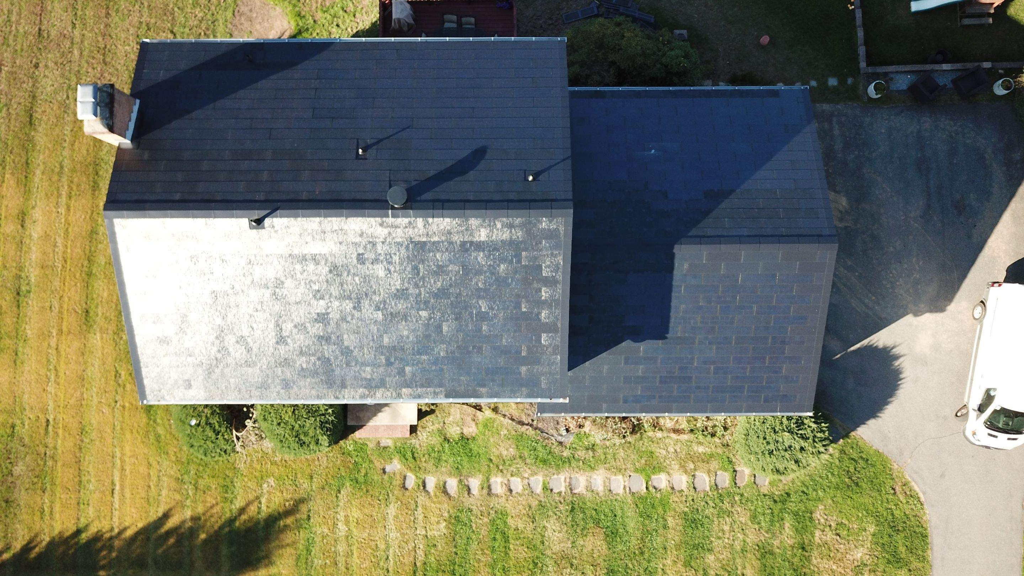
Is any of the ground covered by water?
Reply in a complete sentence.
No, the picture contains no water.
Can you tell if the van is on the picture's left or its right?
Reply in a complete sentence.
The van appears in the right half of the scene.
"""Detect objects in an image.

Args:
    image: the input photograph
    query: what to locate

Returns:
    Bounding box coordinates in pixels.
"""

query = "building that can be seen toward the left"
[77,36,573,405]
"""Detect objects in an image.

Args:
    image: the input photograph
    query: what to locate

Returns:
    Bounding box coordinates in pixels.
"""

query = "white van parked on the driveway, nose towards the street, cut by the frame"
[956,280,1024,447]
